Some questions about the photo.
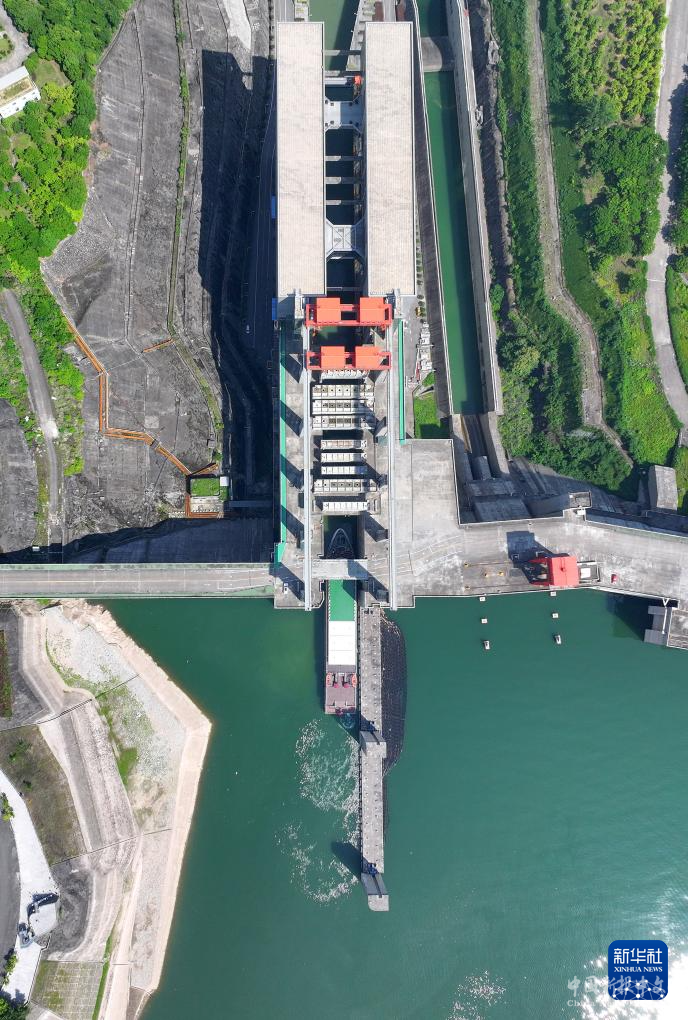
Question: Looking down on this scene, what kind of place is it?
port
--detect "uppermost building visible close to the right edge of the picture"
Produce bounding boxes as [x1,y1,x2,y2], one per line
[646,466,678,512]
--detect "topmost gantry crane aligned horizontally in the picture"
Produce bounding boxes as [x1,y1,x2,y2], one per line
[305,298,392,327]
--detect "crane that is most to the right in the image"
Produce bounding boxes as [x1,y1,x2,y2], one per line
[522,556,601,586]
